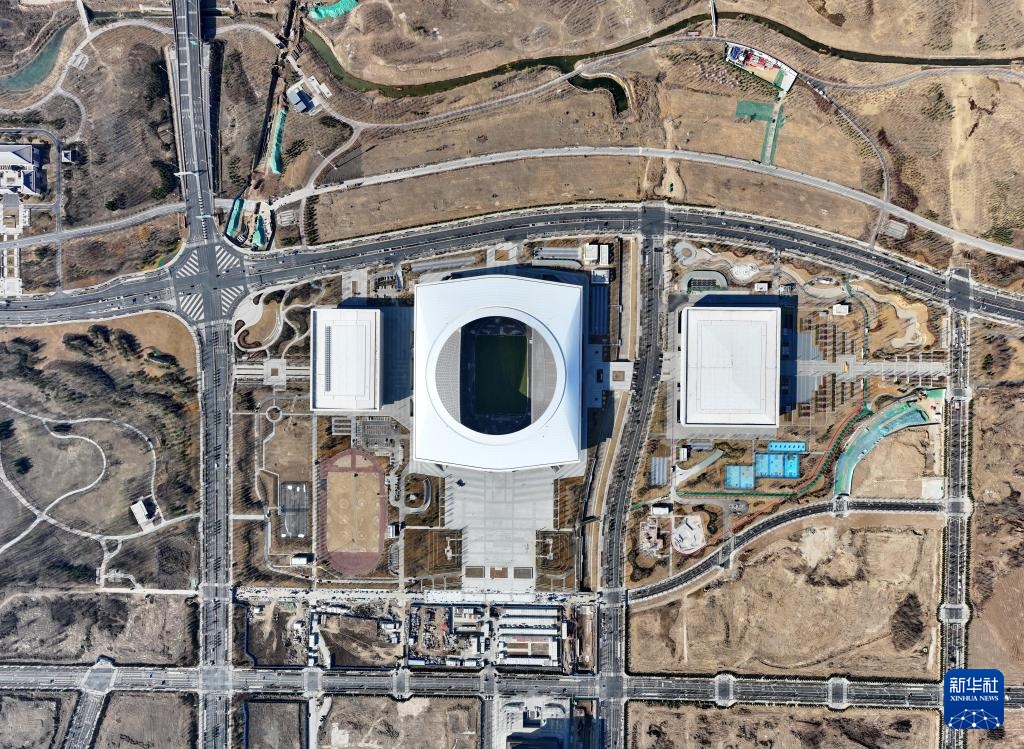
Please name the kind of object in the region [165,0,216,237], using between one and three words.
overpass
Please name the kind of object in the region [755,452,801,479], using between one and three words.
sports court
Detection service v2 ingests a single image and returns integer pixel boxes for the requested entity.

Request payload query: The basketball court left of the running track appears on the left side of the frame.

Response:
[281,482,306,538]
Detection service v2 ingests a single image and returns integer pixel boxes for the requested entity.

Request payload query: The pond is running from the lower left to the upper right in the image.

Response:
[0,25,68,92]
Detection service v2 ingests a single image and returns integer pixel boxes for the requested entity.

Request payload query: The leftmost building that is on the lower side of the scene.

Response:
[128,498,158,527]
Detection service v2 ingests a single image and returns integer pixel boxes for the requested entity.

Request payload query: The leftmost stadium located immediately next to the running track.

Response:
[311,309,383,410]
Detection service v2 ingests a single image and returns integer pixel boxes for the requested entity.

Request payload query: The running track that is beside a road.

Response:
[318,450,387,576]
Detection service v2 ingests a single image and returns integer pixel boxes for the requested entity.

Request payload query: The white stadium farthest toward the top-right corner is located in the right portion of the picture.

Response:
[676,307,781,427]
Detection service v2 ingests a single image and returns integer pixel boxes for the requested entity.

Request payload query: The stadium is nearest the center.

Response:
[411,266,588,485]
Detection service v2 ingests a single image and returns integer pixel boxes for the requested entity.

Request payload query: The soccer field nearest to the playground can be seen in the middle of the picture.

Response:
[475,336,527,416]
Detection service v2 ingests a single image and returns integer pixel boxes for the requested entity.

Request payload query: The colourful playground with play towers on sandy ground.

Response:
[640,517,663,557]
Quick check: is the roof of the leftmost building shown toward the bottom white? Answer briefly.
Yes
